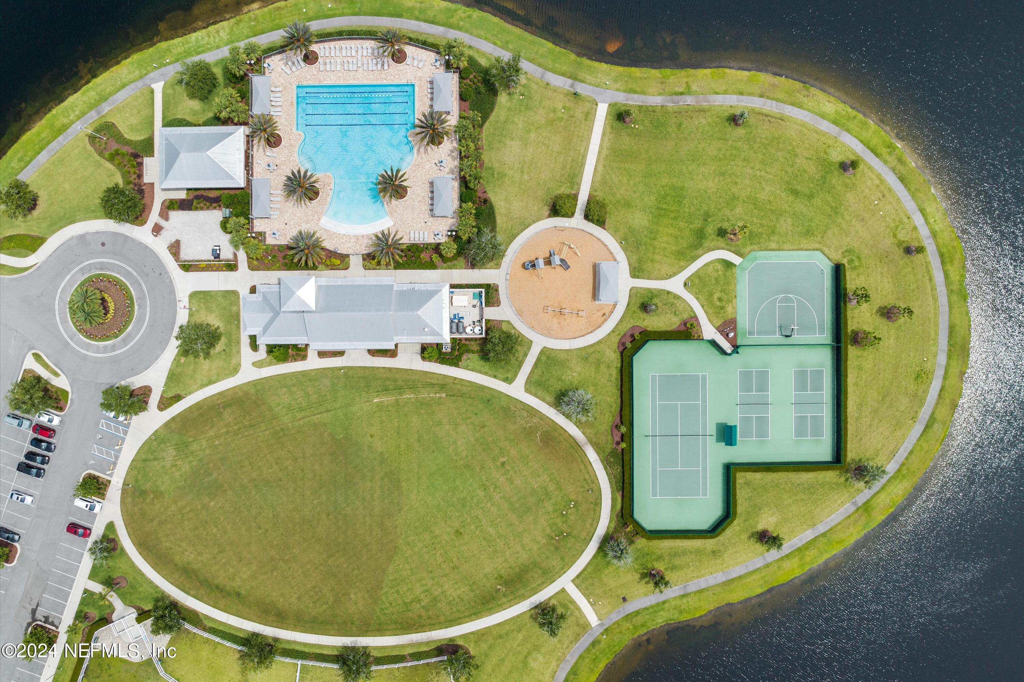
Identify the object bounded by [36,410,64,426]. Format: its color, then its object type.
white car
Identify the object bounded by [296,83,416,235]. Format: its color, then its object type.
blue swimming pool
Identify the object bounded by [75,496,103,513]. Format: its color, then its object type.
white car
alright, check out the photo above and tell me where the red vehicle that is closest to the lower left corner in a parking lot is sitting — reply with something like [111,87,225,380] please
[65,522,94,538]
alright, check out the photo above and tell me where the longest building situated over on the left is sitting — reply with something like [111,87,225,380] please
[243,276,450,352]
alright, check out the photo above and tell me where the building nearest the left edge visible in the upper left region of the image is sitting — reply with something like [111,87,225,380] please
[159,125,249,191]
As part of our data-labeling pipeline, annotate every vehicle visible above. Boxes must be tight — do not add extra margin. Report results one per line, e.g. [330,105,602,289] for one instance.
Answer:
[0,526,23,542]
[12,401,40,416]
[2,412,34,430]
[75,496,103,513]
[36,410,64,426]
[23,449,52,466]
[33,423,59,439]
[15,460,48,479]
[31,436,58,452]
[8,489,37,505]
[209,244,221,259]
[65,522,94,538]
